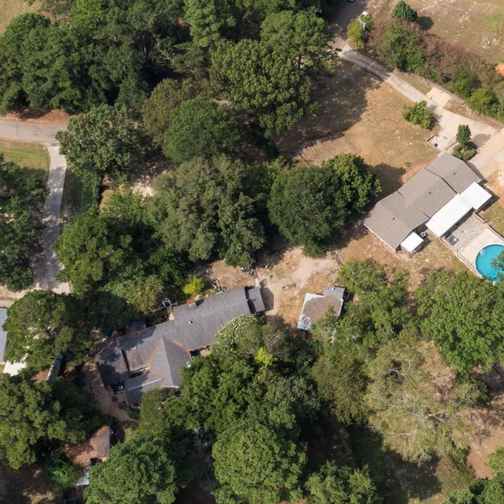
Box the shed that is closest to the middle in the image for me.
[247,286,267,319]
